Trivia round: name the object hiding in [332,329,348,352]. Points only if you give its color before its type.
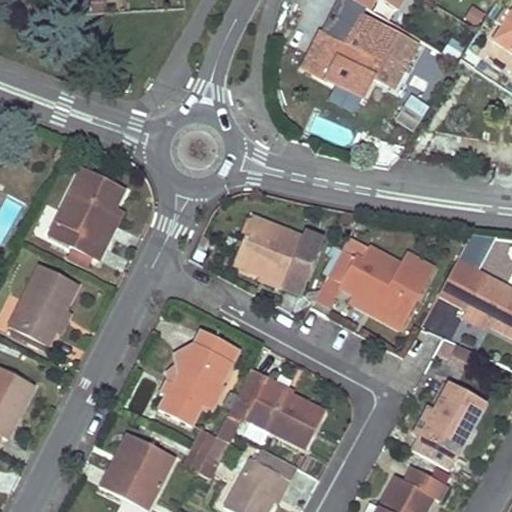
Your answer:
white car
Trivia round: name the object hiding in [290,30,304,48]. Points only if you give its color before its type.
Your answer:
white car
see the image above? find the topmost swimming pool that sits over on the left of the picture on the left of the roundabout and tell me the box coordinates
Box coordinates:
[0,197,24,248]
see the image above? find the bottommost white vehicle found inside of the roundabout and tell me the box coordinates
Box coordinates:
[218,154,235,178]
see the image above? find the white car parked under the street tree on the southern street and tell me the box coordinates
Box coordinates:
[86,412,104,436]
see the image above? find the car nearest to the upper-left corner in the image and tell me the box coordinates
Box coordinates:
[179,92,199,114]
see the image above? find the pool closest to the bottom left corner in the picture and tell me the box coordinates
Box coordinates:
[126,374,160,414]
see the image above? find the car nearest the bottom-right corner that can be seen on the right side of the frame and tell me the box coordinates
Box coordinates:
[408,338,424,357]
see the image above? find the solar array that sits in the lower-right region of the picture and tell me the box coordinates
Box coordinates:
[455,405,482,446]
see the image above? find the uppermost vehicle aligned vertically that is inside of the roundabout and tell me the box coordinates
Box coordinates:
[218,108,230,131]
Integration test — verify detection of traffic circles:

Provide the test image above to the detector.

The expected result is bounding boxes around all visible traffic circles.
[129,80,266,246]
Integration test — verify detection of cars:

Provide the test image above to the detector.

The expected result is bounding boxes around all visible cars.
[408,338,424,357]
[290,30,304,48]
[259,353,276,374]
[300,311,316,334]
[86,412,104,436]
[218,154,235,178]
[190,268,210,283]
[179,92,199,114]
[332,329,348,352]
[218,108,230,131]
[56,341,75,356]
